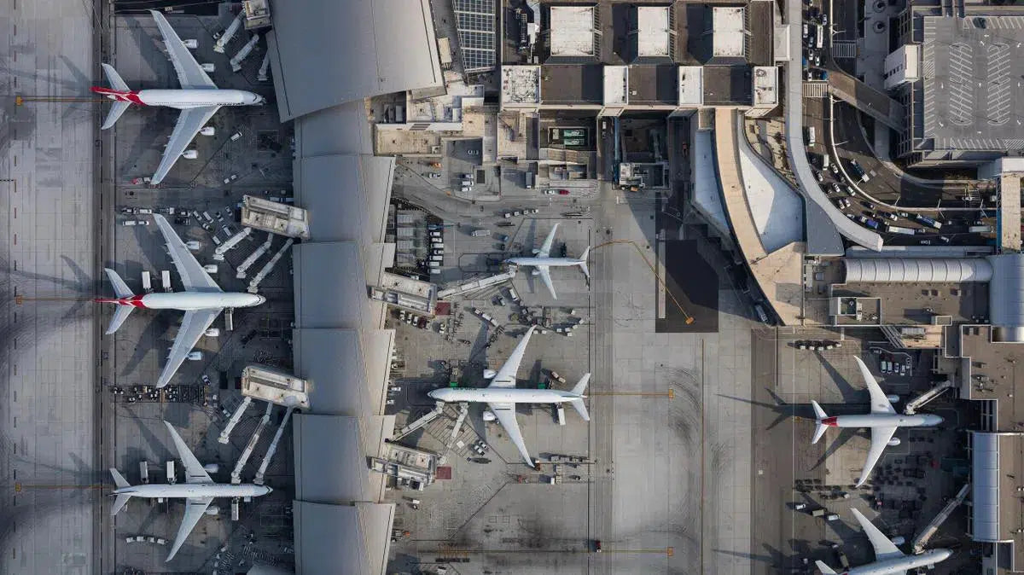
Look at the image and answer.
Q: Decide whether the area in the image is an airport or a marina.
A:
airport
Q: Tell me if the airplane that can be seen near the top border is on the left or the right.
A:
left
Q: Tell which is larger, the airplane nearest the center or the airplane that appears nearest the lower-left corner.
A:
the airplane that appears nearest the lower-left corner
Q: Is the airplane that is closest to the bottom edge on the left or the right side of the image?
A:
right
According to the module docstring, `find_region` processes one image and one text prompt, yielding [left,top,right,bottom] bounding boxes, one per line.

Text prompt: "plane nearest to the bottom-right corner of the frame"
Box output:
[820,508,953,575]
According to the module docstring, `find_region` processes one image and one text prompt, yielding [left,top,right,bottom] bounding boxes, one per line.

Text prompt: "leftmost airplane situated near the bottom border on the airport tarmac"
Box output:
[99,421,273,563]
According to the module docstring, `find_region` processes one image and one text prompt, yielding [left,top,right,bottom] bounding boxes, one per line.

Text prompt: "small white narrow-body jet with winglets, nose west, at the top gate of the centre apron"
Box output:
[504,223,590,301]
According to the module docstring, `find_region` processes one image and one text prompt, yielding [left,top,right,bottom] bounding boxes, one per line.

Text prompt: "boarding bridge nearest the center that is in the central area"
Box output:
[437,266,520,300]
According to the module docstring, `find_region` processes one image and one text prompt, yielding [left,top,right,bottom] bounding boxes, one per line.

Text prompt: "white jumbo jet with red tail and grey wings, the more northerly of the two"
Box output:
[90,10,267,185]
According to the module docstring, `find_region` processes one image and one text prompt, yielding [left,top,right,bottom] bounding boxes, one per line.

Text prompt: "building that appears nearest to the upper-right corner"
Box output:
[885,0,1024,168]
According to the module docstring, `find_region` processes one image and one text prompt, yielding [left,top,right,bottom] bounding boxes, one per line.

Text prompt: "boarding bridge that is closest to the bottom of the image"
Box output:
[911,480,974,555]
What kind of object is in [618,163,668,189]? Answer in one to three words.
house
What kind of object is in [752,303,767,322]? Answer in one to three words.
vehicle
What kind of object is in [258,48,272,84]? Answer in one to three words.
jet bridge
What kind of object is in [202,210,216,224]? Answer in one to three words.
vehicle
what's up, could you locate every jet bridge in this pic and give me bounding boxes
[237,231,280,281]
[248,236,298,295]
[437,266,520,300]
[215,226,256,261]
[213,8,244,57]
[258,48,272,84]
[392,400,445,442]
[230,403,277,486]
[439,401,470,469]
[911,480,974,555]
[229,32,264,77]
[901,379,954,417]
[255,407,294,486]
[219,398,255,445]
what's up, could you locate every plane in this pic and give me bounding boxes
[820,508,953,575]
[98,212,267,387]
[809,356,944,488]
[429,325,591,467]
[99,421,273,563]
[504,223,590,301]
[90,10,267,185]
